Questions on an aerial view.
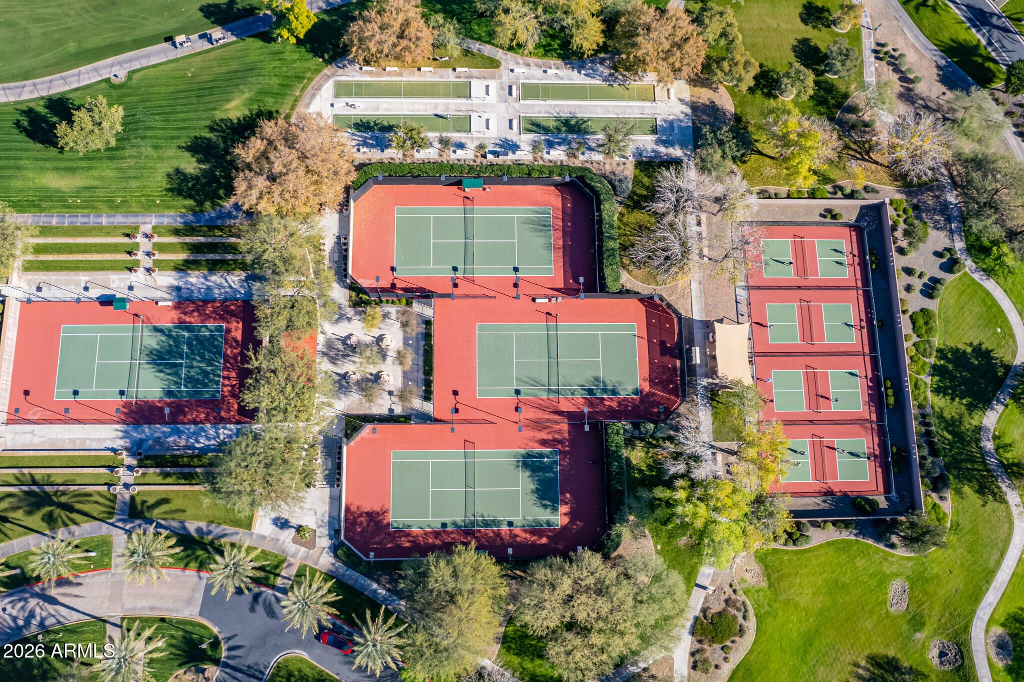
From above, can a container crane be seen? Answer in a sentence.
No, I can't see a single container crane in this photo.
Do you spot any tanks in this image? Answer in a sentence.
No, no tank is visible in the scene.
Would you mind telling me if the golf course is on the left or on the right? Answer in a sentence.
It is on the left.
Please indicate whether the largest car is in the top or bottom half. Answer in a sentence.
It is in the bottom half that the largest car appears.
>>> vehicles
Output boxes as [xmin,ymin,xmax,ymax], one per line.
[211,30,228,47]
[320,630,354,659]
[176,34,193,51]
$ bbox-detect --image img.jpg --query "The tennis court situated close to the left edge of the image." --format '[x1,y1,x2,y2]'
[5,300,261,424]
